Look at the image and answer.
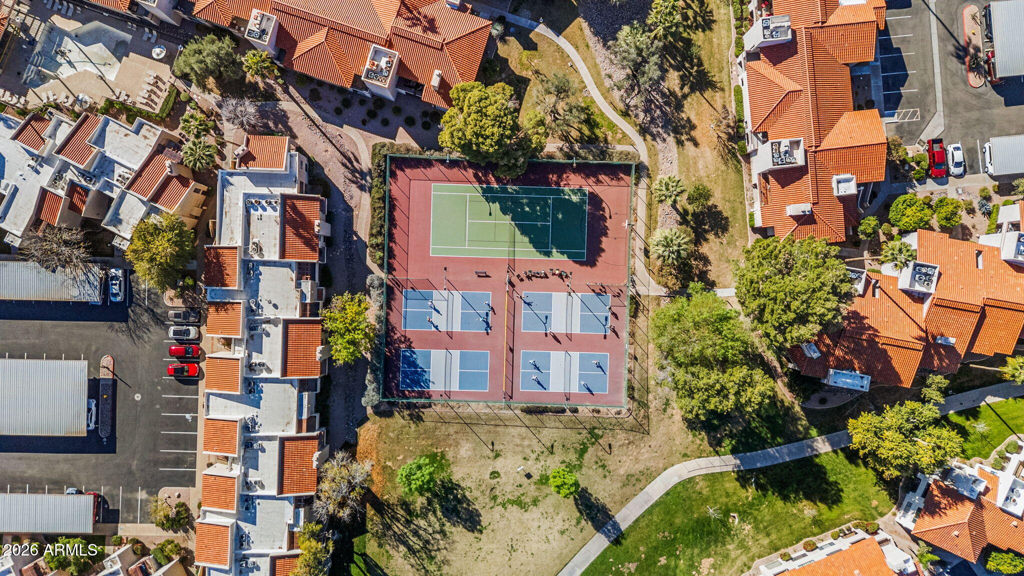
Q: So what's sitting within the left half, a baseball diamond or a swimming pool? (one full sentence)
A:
What appears within the left half is a swimming pool.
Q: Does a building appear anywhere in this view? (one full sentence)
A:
Yes, the frame does contain a building.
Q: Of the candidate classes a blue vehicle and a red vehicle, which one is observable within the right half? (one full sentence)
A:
The feature located within the right half is a red vehicle.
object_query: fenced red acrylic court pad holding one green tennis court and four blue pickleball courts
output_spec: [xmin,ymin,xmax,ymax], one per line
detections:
[384,157,633,404]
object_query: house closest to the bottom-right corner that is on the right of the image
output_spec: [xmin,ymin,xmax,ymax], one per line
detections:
[888,437,1024,564]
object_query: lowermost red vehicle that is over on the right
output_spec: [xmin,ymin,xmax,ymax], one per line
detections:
[930,137,949,177]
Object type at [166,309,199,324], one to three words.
car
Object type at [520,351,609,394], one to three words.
sports court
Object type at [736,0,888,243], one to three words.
building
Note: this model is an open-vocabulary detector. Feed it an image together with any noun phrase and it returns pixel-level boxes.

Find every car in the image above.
[949,143,967,175]
[105,269,123,302]
[64,488,79,494]
[983,4,992,39]
[91,272,105,303]
[983,141,992,174]
[165,363,198,378]
[166,326,198,341]
[166,344,200,359]
[166,309,199,324]
[88,400,96,431]
[985,49,1001,83]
